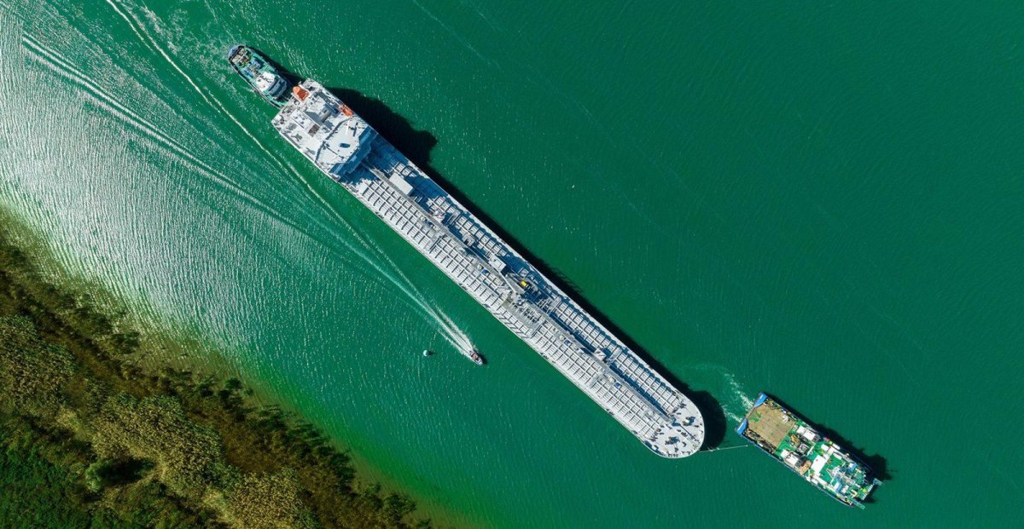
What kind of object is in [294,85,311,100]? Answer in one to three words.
boat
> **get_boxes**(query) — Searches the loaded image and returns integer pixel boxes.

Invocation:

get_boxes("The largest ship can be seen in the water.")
[271,81,705,457]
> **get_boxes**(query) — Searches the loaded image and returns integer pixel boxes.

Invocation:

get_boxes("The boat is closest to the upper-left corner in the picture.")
[227,43,295,107]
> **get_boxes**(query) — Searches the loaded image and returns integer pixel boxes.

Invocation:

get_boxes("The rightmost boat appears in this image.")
[734,391,883,512]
